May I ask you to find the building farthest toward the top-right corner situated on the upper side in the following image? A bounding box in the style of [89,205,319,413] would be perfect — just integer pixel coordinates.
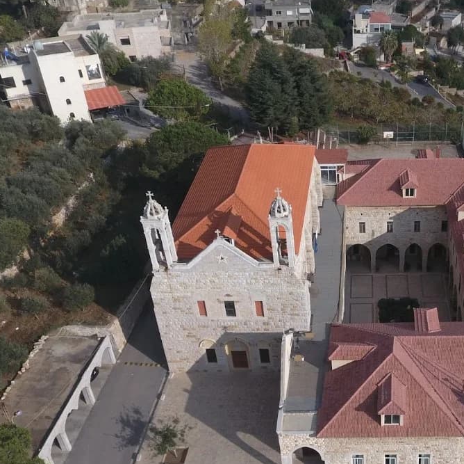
[435,0,463,26]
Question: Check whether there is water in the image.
No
